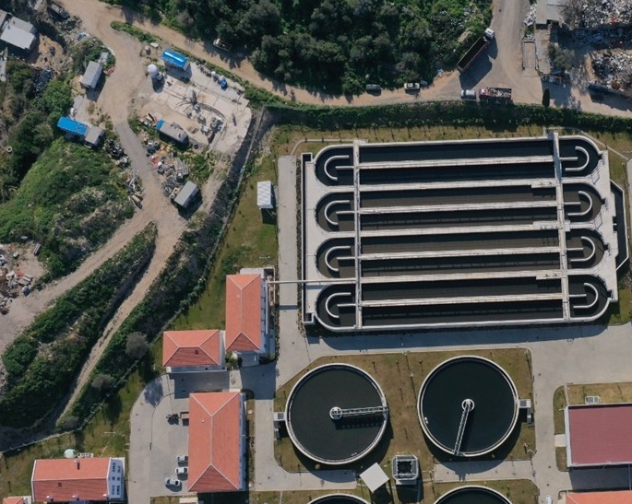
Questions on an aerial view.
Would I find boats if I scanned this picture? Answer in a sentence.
No, I can't see a single boat in this photo.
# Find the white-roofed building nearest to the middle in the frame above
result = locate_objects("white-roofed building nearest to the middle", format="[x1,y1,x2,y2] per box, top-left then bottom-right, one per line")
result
[257,180,274,213]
